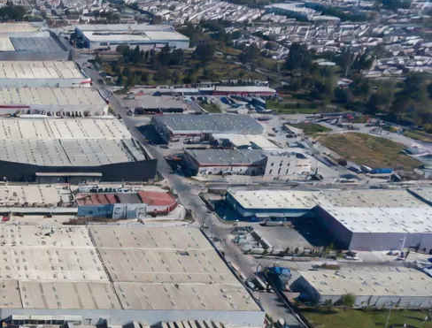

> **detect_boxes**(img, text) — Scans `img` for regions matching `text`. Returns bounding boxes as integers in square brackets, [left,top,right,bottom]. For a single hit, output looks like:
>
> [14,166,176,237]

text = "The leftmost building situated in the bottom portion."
[0,185,77,216]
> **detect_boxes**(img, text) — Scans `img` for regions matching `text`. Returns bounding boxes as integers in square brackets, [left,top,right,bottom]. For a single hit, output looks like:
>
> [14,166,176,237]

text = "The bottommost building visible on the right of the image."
[294,269,432,310]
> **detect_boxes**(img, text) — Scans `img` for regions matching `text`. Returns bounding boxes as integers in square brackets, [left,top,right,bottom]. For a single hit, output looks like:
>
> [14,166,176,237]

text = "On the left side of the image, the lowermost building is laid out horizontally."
[0,225,263,328]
